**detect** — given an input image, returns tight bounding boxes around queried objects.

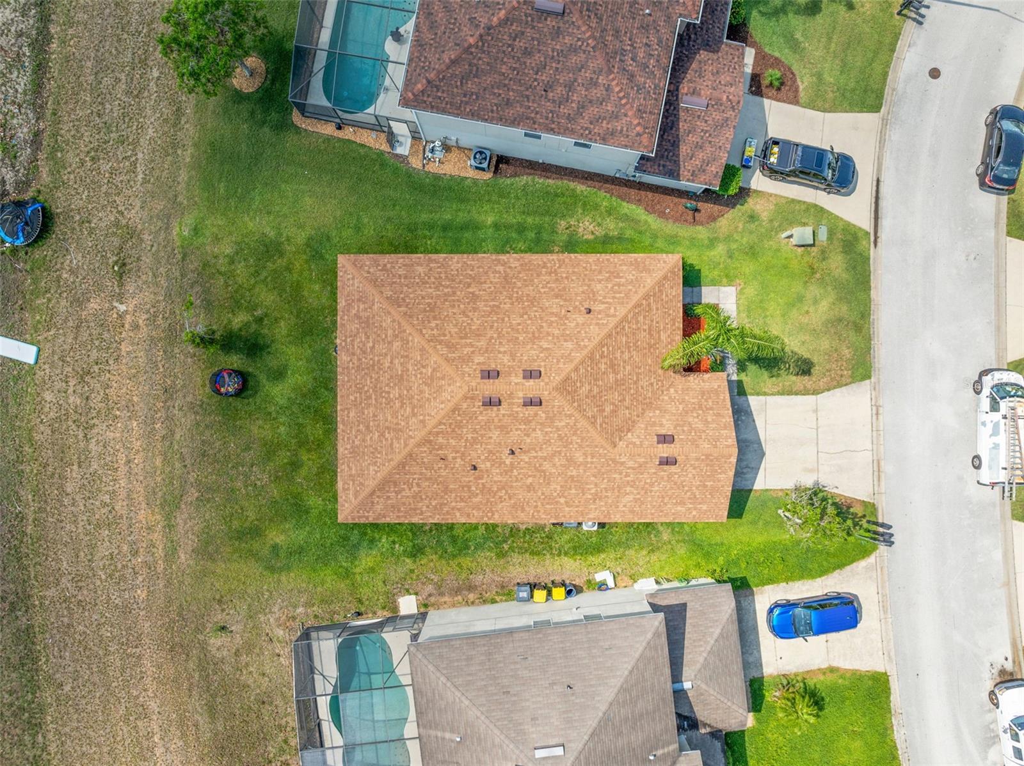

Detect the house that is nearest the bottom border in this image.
[407,578,749,766]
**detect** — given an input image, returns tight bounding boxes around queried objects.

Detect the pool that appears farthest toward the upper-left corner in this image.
[320,0,415,116]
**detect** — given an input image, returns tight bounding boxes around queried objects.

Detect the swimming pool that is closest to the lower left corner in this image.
[327,628,413,766]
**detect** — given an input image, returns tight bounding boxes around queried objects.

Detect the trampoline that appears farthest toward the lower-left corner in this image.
[205,367,245,399]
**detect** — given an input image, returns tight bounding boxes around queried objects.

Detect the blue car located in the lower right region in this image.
[766,589,862,640]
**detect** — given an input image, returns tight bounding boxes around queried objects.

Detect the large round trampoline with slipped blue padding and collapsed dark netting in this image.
[0,193,47,251]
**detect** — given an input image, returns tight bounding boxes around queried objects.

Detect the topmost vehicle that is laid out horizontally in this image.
[756,135,860,194]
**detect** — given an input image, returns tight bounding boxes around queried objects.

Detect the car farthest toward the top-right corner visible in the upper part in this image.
[972,101,1024,192]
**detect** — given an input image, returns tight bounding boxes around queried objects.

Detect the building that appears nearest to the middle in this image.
[336,254,739,523]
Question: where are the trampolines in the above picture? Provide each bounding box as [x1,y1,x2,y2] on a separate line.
[205,367,245,399]
[0,193,47,251]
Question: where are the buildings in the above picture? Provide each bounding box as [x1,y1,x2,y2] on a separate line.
[407,578,749,766]
[336,254,739,523]
[395,0,746,197]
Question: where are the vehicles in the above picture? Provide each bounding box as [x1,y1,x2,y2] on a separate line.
[972,101,1024,192]
[984,683,1024,766]
[970,367,1024,483]
[756,135,860,194]
[766,589,862,640]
